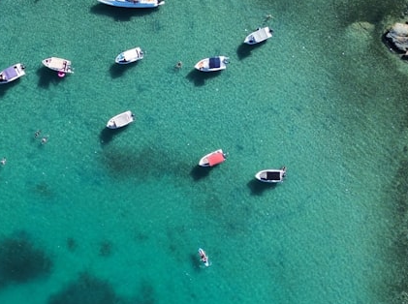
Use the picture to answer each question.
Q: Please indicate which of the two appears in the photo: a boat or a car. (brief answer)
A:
boat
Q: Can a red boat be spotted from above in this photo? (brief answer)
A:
Yes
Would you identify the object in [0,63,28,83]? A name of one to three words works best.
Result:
boat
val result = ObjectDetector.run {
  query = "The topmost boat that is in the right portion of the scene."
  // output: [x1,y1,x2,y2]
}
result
[243,27,274,43]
